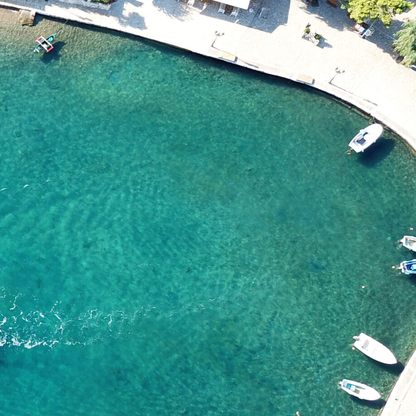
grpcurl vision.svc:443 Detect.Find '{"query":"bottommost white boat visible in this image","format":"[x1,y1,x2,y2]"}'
[335,378,382,399]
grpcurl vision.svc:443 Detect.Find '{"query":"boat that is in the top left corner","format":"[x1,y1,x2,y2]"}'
[34,22,65,53]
